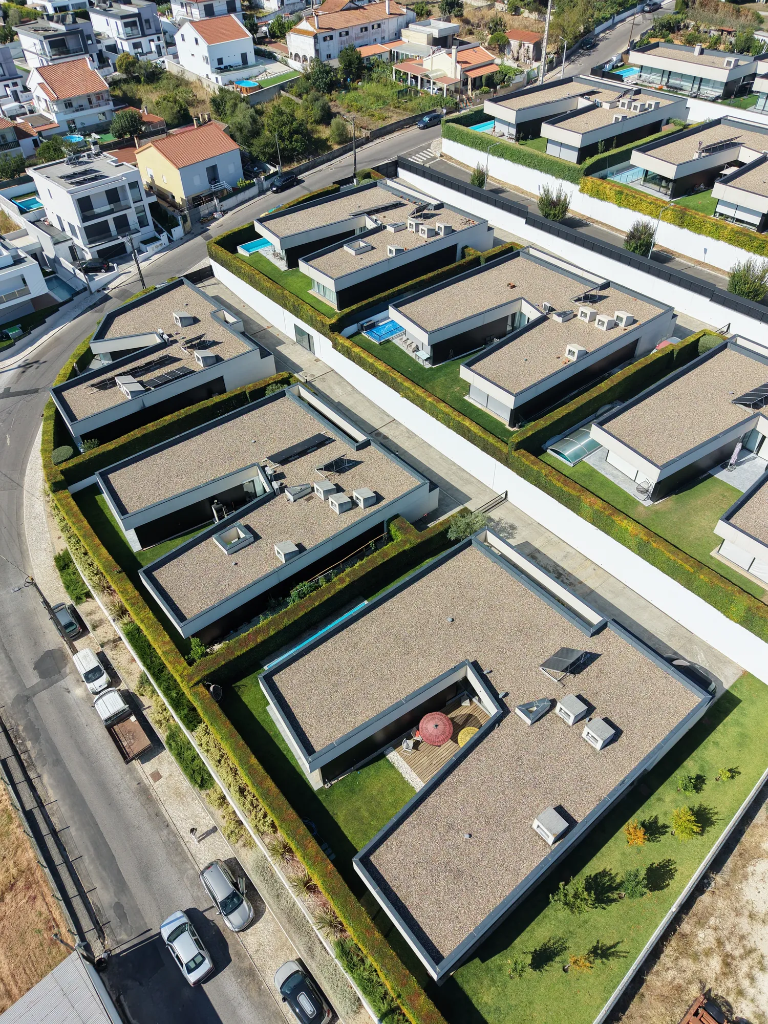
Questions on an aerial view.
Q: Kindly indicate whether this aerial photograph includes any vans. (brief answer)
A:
Yes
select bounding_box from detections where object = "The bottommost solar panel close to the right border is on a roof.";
[734,383,768,412]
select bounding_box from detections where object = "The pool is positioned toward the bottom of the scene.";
[264,603,374,673]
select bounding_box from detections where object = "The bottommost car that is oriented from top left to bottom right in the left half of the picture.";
[275,957,339,1024]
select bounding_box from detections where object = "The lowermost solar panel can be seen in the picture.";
[543,645,586,680]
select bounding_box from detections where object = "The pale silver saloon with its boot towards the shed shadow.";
[159,907,217,991]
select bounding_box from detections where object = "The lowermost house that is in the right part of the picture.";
[260,534,722,987]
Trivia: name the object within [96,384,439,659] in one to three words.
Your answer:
house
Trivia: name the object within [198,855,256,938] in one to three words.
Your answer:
car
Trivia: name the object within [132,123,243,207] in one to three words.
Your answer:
house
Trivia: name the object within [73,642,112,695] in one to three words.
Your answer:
van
